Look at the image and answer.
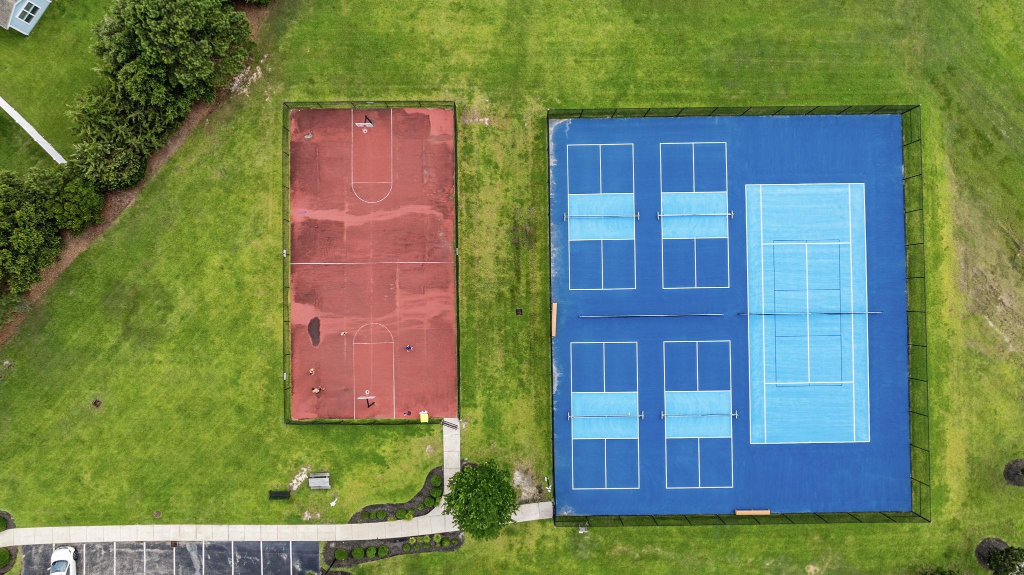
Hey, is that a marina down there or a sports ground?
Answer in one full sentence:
What you see here is a sports ground.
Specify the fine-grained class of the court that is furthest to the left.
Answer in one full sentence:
Specifically, the court that is furthest to the left is a basketball court.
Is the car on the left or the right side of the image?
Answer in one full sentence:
It is on the left.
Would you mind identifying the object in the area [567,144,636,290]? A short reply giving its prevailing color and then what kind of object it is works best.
blue sports court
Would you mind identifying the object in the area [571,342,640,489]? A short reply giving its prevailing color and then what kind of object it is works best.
blue sports court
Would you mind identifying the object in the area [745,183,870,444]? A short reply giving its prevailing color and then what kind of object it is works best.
blue tennis court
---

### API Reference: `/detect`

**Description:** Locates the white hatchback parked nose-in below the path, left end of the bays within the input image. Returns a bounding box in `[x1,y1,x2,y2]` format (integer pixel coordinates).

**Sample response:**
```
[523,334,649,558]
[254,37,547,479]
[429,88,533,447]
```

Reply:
[46,545,76,575]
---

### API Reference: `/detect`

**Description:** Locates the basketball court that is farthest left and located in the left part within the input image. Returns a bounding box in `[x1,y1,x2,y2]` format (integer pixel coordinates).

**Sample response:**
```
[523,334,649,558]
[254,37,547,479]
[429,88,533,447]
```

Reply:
[290,108,458,420]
